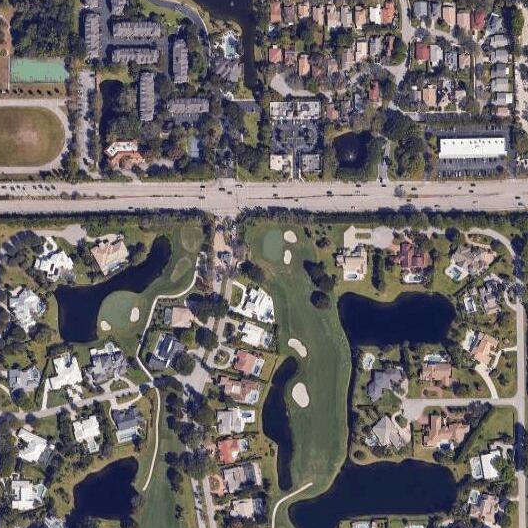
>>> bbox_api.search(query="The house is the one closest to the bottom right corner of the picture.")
[469,498,500,518]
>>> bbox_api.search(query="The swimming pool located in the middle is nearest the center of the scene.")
[258,307,277,325]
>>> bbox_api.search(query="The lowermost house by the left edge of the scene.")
[11,481,32,509]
